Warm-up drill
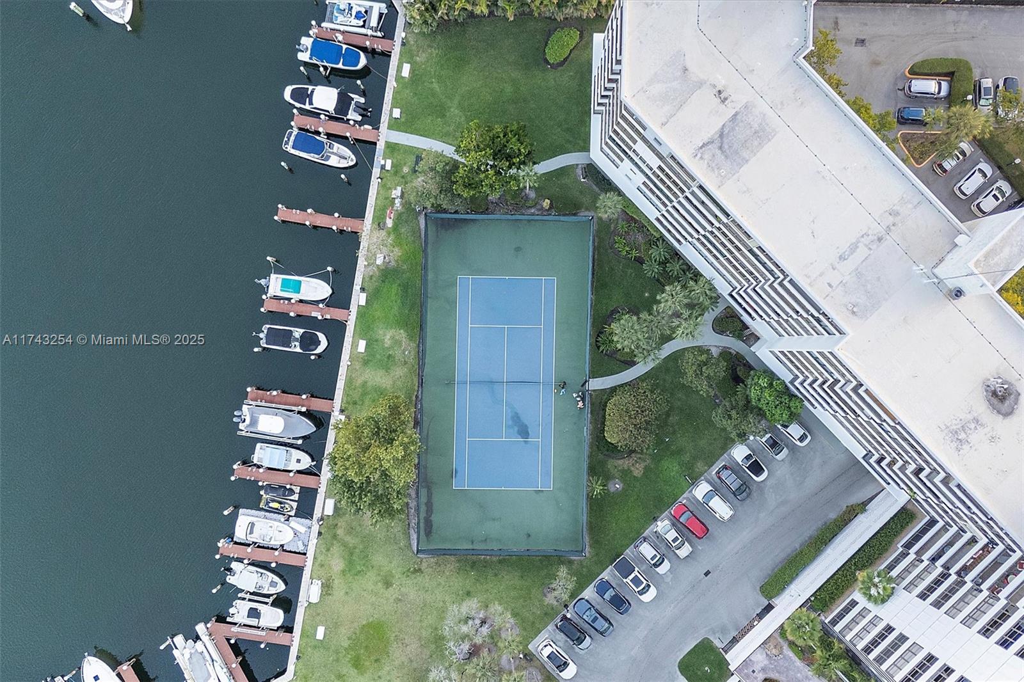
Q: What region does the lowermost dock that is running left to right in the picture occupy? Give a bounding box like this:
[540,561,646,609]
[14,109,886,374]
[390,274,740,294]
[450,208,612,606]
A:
[210,621,293,645]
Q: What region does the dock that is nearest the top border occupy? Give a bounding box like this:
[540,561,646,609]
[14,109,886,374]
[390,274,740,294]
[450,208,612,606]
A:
[315,27,394,51]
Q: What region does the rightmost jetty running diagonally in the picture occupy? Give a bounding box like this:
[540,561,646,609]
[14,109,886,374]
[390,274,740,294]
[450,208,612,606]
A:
[207,629,251,682]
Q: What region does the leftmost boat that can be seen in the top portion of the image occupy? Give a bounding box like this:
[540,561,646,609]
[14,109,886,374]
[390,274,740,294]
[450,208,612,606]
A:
[92,0,130,29]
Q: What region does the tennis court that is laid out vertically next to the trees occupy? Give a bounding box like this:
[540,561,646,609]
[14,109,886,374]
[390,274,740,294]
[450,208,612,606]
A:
[421,220,589,547]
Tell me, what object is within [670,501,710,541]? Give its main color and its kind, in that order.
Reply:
red car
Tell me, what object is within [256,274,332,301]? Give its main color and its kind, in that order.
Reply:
white boat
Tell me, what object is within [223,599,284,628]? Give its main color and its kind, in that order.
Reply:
white boat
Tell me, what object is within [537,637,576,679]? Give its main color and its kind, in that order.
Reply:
white car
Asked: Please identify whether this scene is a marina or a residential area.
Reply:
marina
